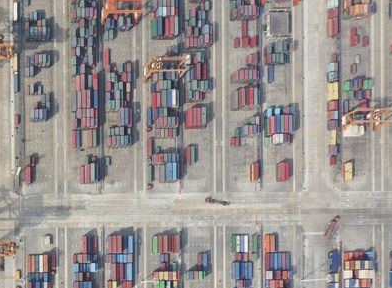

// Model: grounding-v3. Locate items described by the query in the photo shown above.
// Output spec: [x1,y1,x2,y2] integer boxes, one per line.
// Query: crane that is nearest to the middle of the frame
[143,55,191,84]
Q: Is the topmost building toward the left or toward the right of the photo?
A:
right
